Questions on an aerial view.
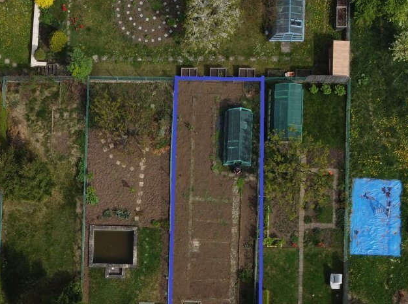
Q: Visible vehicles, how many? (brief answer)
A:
zero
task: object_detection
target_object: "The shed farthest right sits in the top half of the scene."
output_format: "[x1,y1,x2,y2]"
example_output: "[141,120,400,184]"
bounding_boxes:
[325,41,350,85]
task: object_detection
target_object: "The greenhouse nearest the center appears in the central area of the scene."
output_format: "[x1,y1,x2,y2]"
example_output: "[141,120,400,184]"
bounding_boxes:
[225,106,252,167]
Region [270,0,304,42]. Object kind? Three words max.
greenhouse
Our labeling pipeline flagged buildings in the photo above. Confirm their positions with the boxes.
[225,106,252,167]
[270,0,304,42]
[272,78,303,146]
[325,41,350,85]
